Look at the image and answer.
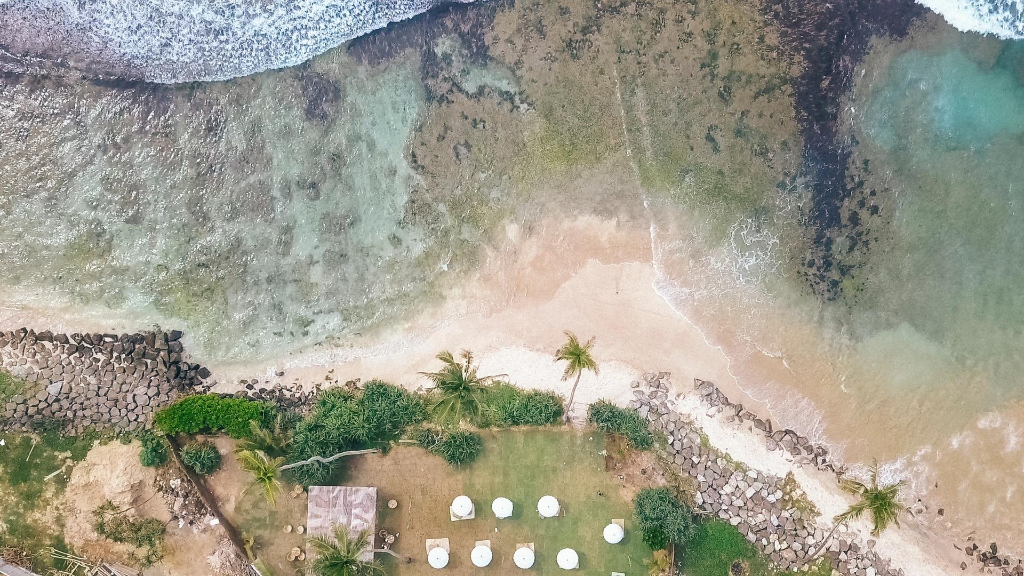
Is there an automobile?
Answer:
No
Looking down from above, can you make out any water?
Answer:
Yes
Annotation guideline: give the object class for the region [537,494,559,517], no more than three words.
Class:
umbrella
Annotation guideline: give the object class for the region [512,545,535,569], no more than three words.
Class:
umbrella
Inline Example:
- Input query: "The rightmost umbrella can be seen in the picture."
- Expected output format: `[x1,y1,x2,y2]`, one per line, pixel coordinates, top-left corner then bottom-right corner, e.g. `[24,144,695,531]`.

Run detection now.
[602,521,625,544]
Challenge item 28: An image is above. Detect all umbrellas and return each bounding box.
[556,547,579,570]
[470,543,493,566]
[537,494,559,517]
[427,545,450,568]
[491,496,513,518]
[602,521,625,544]
[512,545,535,569]
[451,494,473,517]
